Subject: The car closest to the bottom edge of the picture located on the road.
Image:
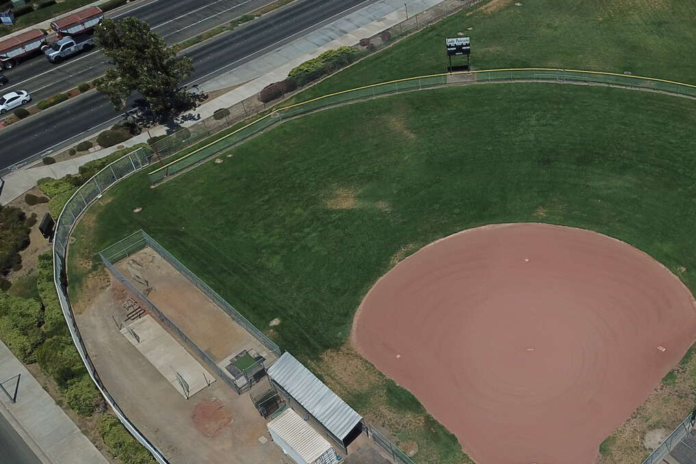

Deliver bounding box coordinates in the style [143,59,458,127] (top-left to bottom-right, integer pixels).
[0,92,33,115]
